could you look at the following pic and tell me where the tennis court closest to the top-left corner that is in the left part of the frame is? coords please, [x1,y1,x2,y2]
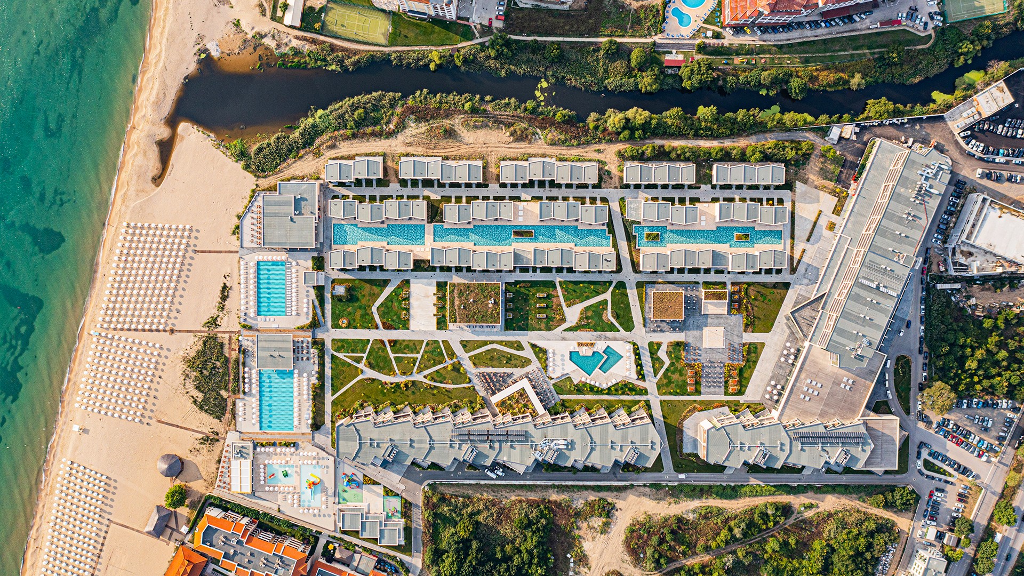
[319,0,392,45]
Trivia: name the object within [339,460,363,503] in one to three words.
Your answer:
playground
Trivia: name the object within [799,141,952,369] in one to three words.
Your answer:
building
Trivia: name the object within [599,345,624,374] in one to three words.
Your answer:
swimming pool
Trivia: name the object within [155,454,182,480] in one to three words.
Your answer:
gazebo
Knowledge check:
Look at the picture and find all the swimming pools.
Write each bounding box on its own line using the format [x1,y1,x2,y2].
[569,351,605,376]
[682,0,707,9]
[599,345,624,374]
[633,225,783,248]
[332,223,425,246]
[670,7,692,28]
[266,464,295,485]
[433,224,611,247]
[256,261,286,316]
[258,369,294,431]
[300,464,321,508]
